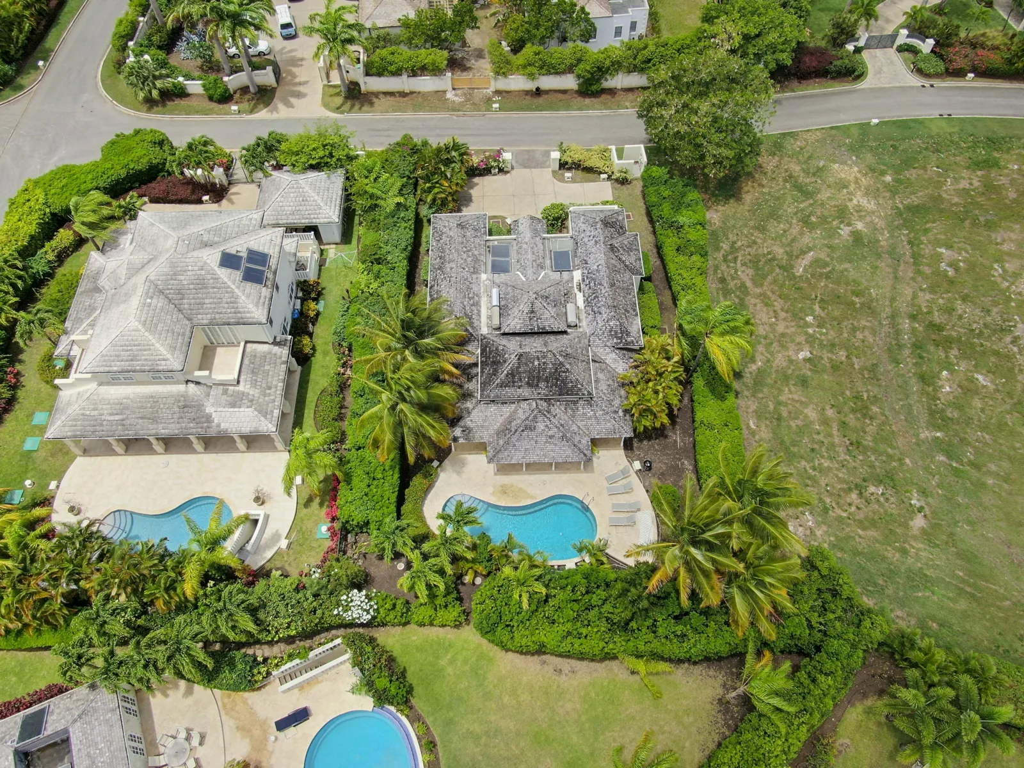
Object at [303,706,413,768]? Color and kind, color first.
blue swimming pool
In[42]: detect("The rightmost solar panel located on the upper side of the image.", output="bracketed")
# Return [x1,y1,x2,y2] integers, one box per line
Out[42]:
[552,249,572,271]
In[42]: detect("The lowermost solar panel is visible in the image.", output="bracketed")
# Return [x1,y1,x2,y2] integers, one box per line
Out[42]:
[14,704,49,747]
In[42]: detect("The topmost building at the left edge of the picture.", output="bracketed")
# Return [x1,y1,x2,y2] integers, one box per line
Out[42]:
[44,209,325,456]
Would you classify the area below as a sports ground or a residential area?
residential area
